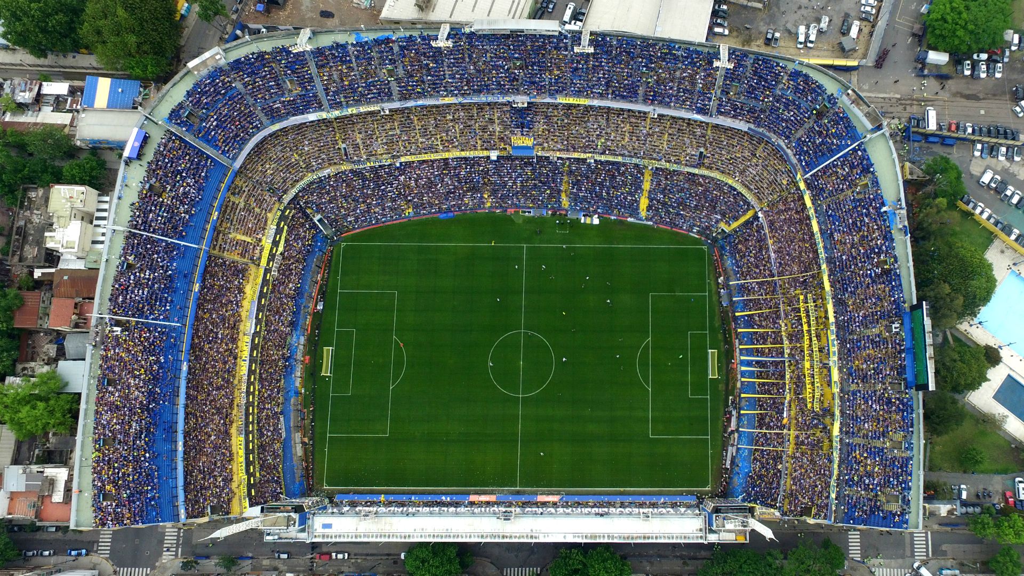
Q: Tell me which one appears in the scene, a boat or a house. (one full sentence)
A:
Of the two, only a house appears.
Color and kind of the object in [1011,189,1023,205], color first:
white vehicle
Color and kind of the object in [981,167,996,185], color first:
white vehicle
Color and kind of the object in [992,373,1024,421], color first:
blue swimming pool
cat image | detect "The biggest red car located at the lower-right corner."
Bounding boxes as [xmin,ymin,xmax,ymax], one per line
[1005,491,1018,509]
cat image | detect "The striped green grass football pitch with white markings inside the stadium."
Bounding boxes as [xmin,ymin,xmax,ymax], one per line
[313,211,721,489]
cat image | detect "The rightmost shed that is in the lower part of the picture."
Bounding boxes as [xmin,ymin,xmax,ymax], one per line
[922,502,960,517]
